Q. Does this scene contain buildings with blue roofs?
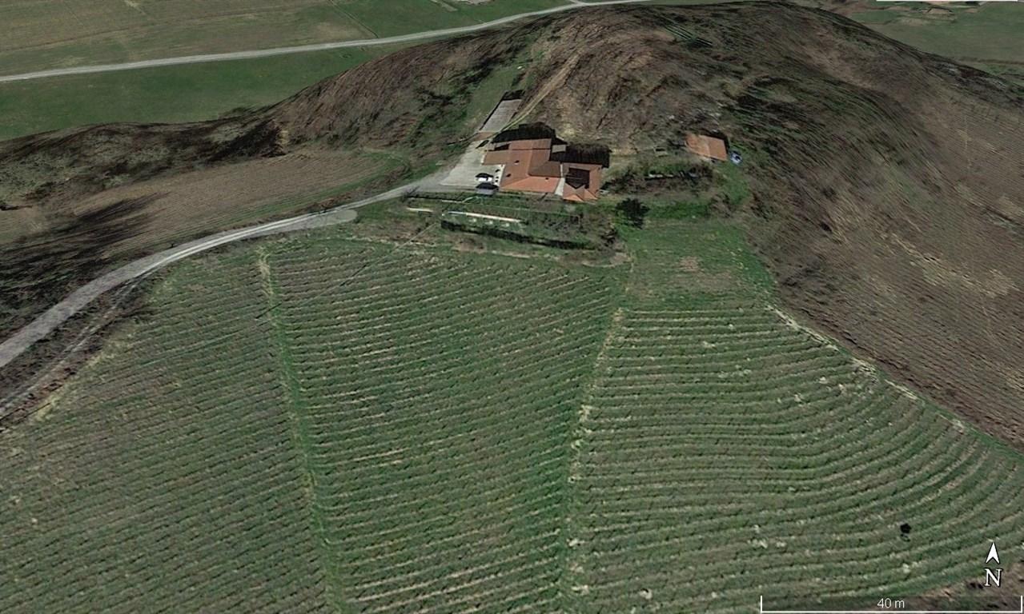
No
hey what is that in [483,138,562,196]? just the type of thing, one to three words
house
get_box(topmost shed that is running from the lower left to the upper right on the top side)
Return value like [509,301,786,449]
[481,99,521,136]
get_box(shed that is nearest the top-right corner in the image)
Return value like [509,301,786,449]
[686,133,727,164]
